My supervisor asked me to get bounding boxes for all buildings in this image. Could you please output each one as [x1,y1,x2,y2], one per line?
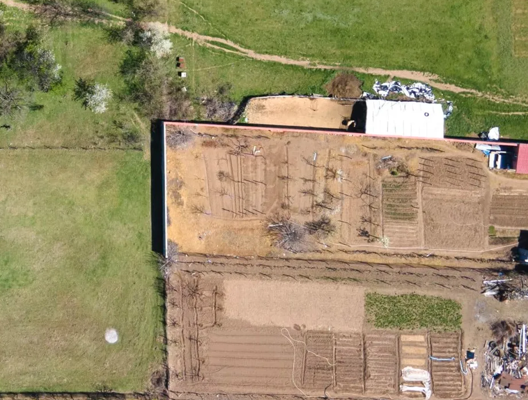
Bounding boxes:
[507,144,528,174]
[358,100,444,138]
